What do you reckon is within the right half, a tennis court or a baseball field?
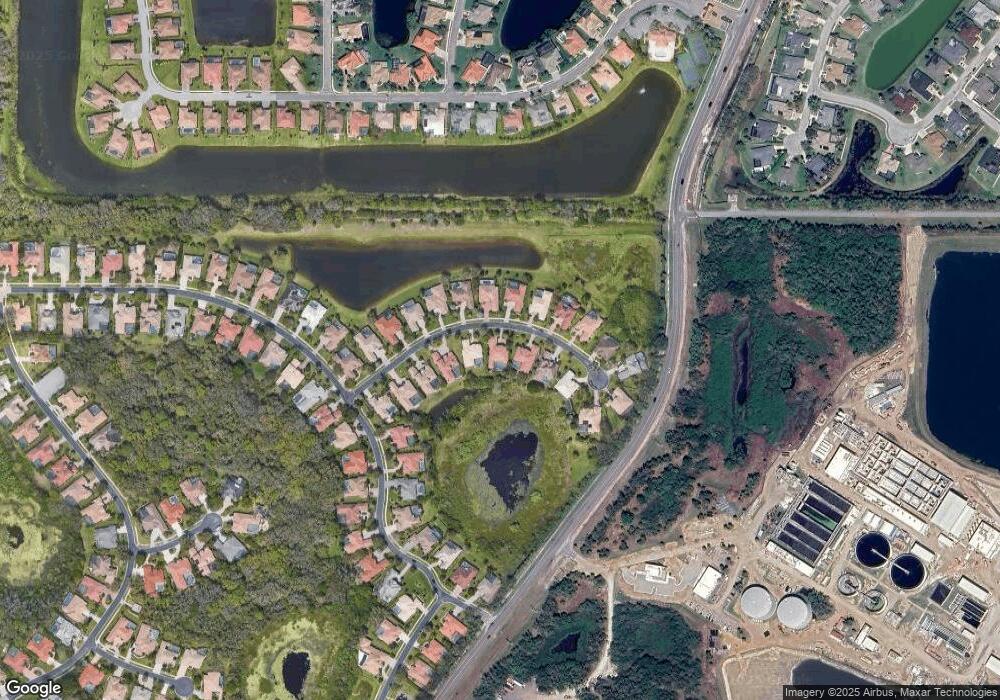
tennis court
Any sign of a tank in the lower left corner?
No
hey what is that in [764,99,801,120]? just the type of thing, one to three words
house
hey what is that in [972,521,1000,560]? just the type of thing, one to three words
building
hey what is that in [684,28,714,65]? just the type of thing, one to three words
tennis court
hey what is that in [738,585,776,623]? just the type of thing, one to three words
storage tank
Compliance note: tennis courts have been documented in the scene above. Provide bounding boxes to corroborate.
[674,55,703,92]
[684,28,714,65]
